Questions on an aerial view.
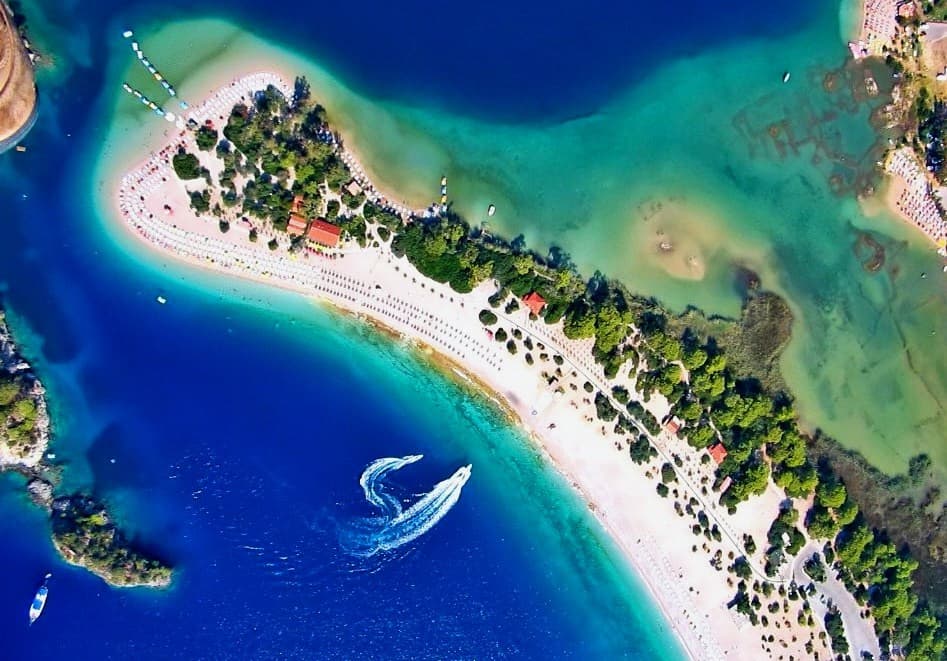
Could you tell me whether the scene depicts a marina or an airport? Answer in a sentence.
It's a marina.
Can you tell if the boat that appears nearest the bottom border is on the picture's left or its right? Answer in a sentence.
The boat that appears nearest the bottom border sits on the left side.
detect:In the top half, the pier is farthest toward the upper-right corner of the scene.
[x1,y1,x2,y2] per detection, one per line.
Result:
[848,42,874,60]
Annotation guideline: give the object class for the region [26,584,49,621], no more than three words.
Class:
boat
